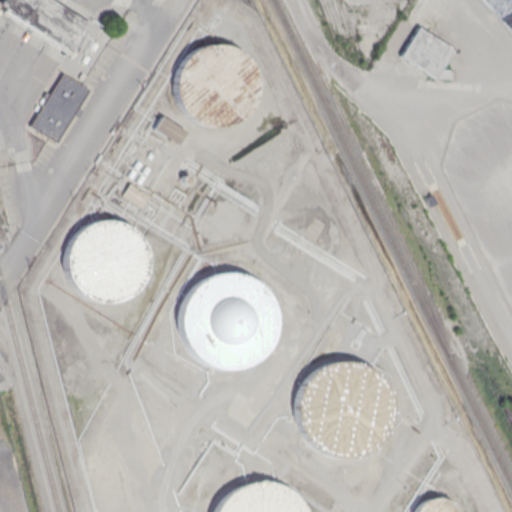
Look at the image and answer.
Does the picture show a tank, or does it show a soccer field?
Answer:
tank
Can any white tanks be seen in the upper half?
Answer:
Yes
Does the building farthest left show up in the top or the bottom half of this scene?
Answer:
top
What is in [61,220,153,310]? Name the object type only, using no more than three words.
storage tank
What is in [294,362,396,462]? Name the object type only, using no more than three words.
storage tank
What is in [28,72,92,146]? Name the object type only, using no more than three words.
building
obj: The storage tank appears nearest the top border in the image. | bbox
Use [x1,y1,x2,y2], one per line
[172,45,262,132]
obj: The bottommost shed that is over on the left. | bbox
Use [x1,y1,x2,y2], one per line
[122,184,151,208]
